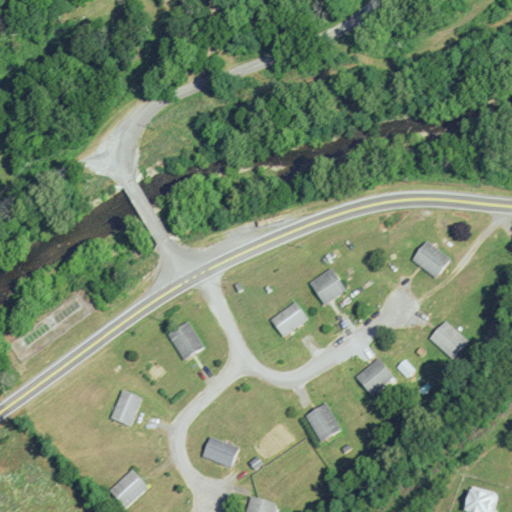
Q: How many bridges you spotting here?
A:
1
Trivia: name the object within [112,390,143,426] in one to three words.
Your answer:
house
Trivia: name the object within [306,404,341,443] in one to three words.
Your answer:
house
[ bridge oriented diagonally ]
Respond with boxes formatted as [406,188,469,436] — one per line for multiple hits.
[119,174,173,248]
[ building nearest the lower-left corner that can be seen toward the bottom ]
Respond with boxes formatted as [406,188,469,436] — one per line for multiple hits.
[110,470,148,508]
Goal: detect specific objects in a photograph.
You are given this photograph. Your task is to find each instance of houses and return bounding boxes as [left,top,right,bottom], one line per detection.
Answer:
[464,486,498,512]
[270,302,308,338]
[169,322,204,362]
[110,470,148,508]
[247,496,278,512]
[430,322,468,359]
[306,404,341,443]
[112,390,143,426]
[202,437,242,468]
[309,268,346,304]
[413,242,450,278]
[358,360,392,390]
